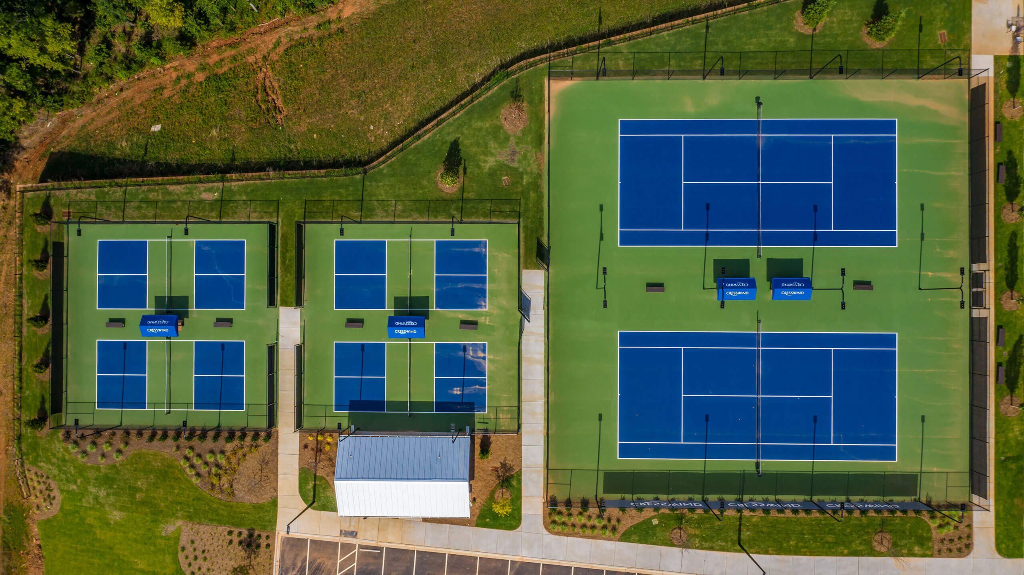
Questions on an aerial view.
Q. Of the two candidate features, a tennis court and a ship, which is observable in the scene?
tennis court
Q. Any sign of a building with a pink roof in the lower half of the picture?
No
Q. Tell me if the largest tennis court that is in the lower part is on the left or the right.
right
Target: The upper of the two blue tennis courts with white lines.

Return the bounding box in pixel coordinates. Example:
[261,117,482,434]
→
[547,78,970,289]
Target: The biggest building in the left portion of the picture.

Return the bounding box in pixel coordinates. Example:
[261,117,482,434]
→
[334,434,470,519]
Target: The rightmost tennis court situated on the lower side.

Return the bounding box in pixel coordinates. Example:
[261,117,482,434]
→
[547,289,971,503]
